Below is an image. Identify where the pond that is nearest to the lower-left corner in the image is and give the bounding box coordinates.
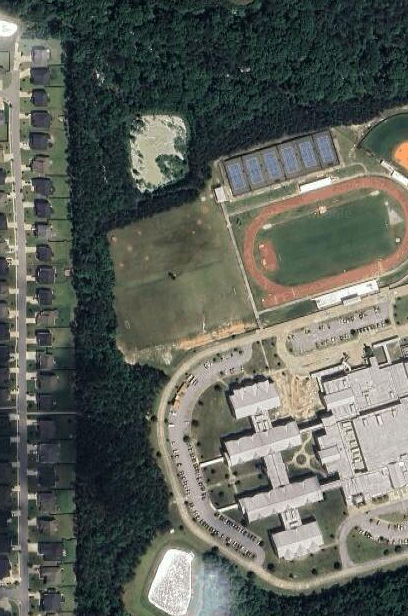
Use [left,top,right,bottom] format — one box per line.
[148,549,192,616]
